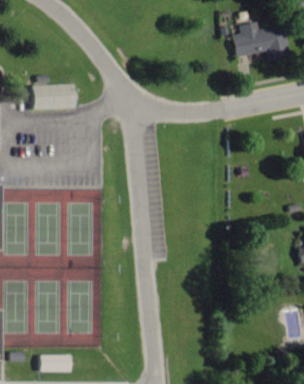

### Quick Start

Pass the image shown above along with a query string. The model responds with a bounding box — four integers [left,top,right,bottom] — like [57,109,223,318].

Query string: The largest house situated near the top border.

[232,12,290,56]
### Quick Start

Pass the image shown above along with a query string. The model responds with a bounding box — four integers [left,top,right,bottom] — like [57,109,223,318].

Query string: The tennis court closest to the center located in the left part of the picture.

[68,203,93,256]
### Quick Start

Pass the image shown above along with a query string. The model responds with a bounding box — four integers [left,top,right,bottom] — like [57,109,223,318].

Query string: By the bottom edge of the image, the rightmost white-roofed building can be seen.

[40,354,74,374]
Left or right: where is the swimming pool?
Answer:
right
